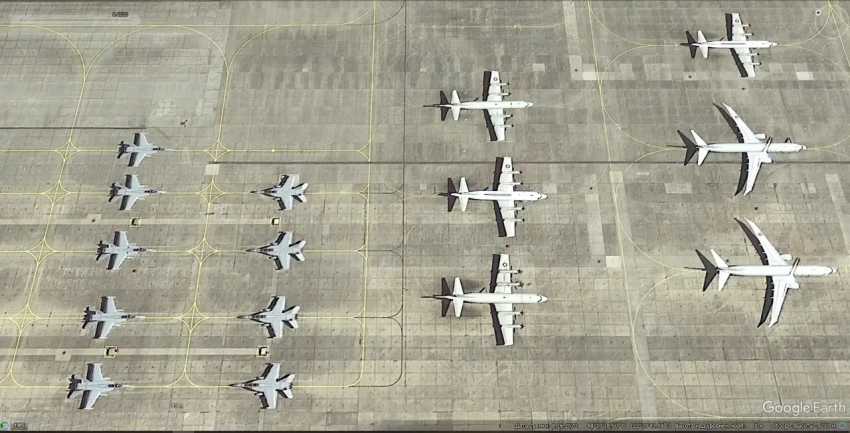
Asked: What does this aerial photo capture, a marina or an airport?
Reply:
airport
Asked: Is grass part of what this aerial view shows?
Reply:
No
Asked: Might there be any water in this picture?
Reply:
No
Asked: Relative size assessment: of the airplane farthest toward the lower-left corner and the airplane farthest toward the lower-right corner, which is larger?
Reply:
the airplane farthest toward the lower-right corner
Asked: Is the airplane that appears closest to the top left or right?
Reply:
right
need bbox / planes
[435,70,533,140]
[100,232,159,270]
[239,297,300,338]
[111,175,169,210]
[683,12,777,76]
[694,103,806,195]
[247,232,305,270]
[86,298,149,338]
[441,157,547,236]
[714,217,836,327]
[120,134,176,167]
[230,364,295,409]
[71,364,135,409]
[252,175,308,210]
[434,253,547,345]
